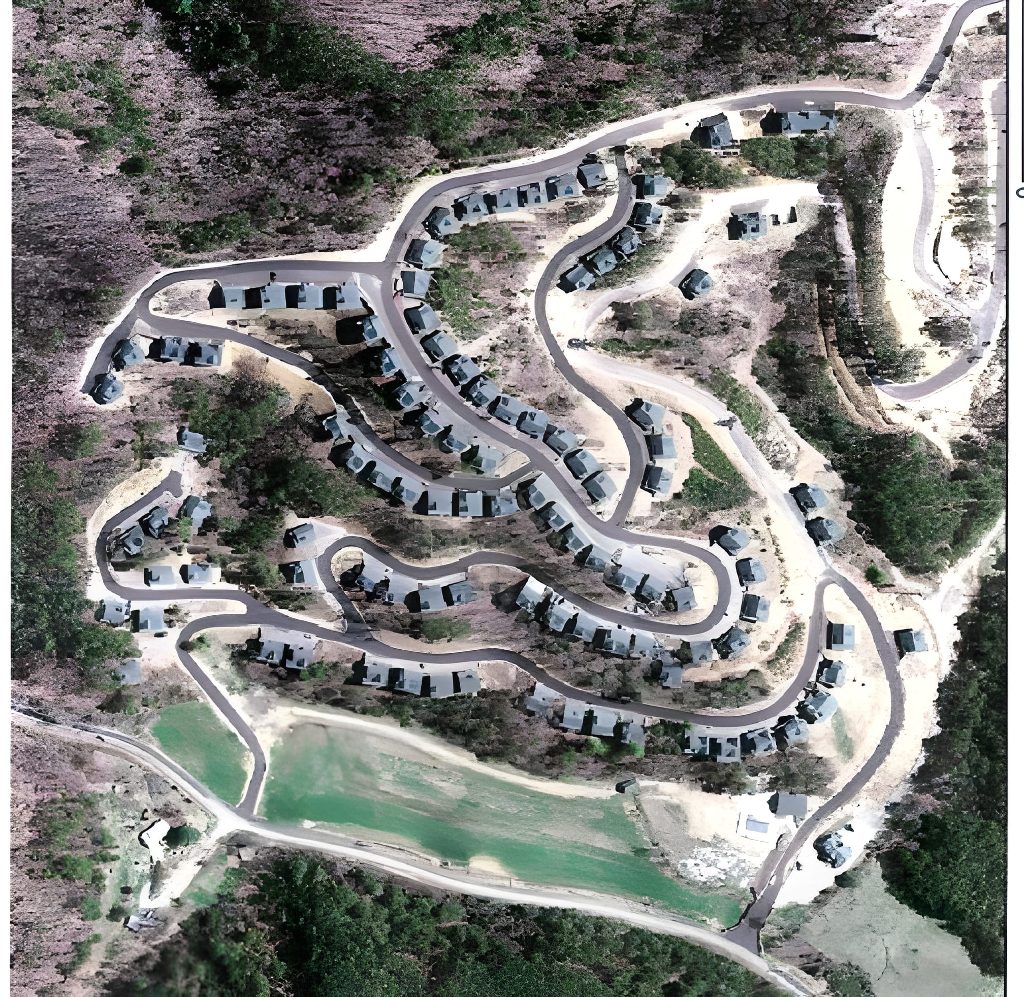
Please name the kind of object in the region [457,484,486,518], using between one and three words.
house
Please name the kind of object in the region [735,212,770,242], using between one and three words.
house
